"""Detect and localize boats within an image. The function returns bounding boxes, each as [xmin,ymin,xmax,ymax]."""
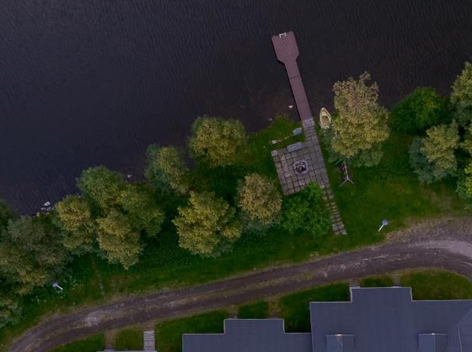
[318,107,331,129]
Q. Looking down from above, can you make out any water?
Yes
